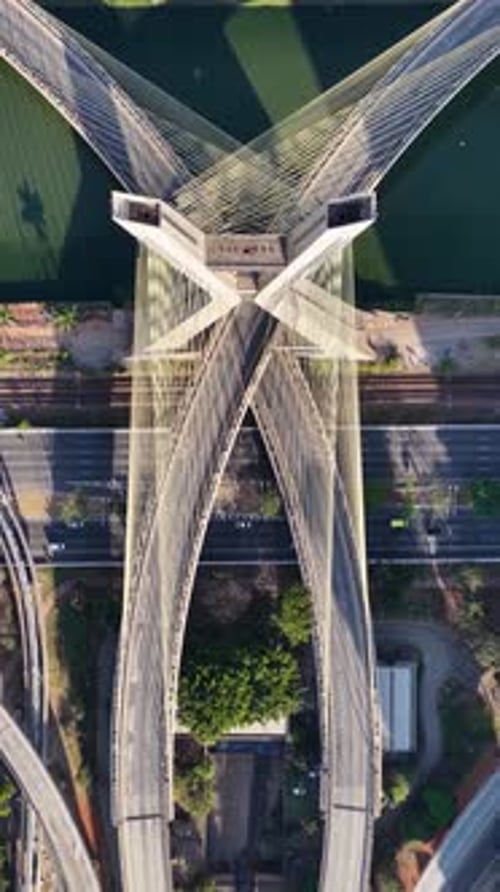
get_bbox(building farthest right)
[376,660,416,753]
